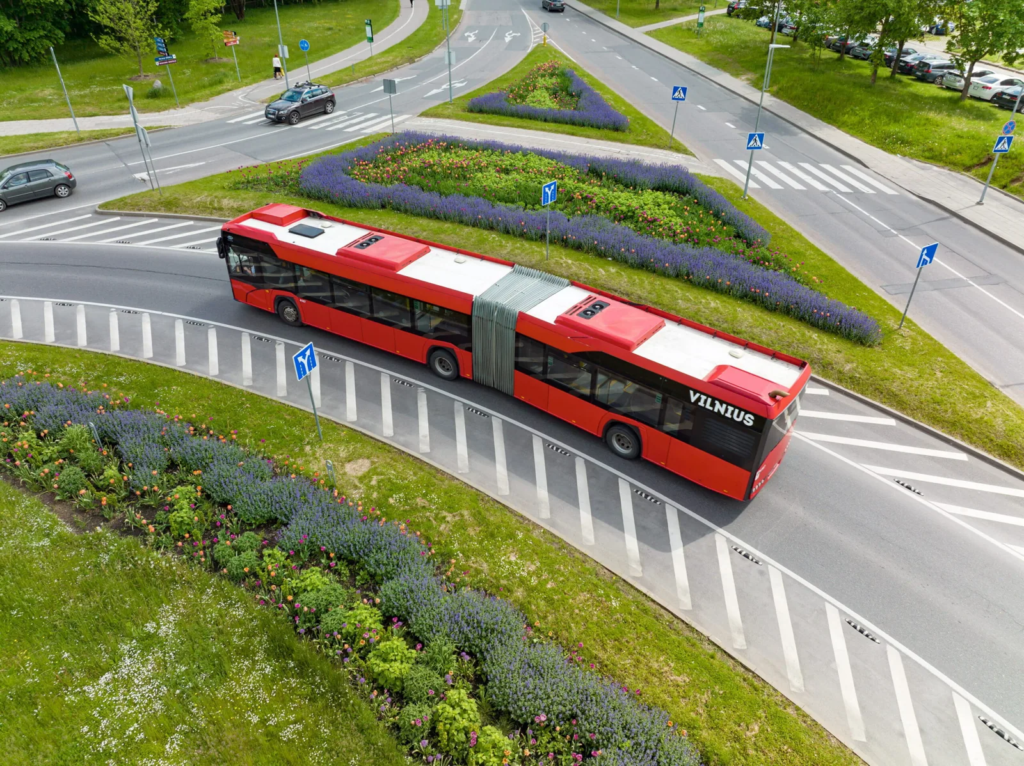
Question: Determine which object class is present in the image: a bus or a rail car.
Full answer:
I can see a bus in this picture.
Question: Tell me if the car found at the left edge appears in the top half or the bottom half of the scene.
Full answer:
The top half of the photo is where the car found at the left edge is.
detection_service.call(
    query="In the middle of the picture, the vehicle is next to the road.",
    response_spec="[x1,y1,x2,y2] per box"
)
[213,198,814,503]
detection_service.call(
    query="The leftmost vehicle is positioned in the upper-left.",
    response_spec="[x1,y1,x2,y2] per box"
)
[0,159,79,208]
